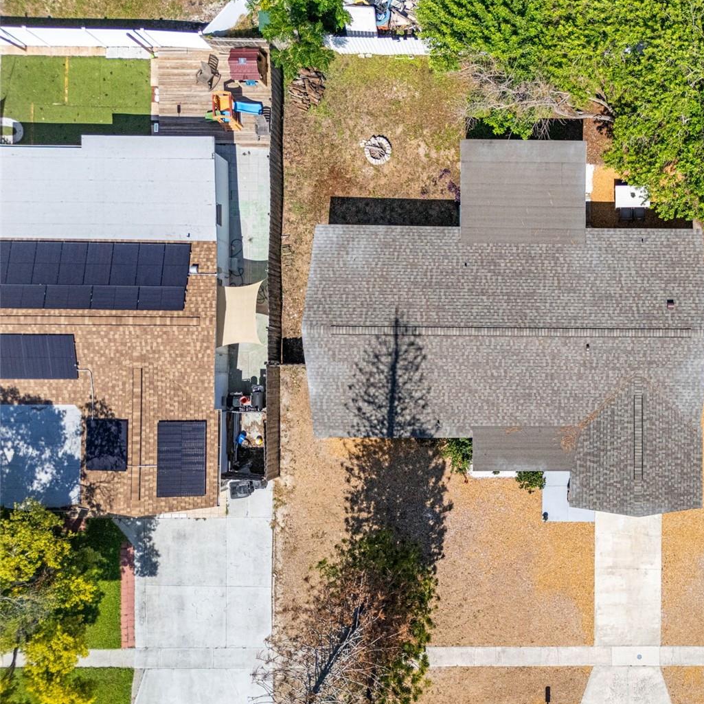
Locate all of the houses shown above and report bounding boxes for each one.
[303,141,704,515]
[0,135,236,522]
